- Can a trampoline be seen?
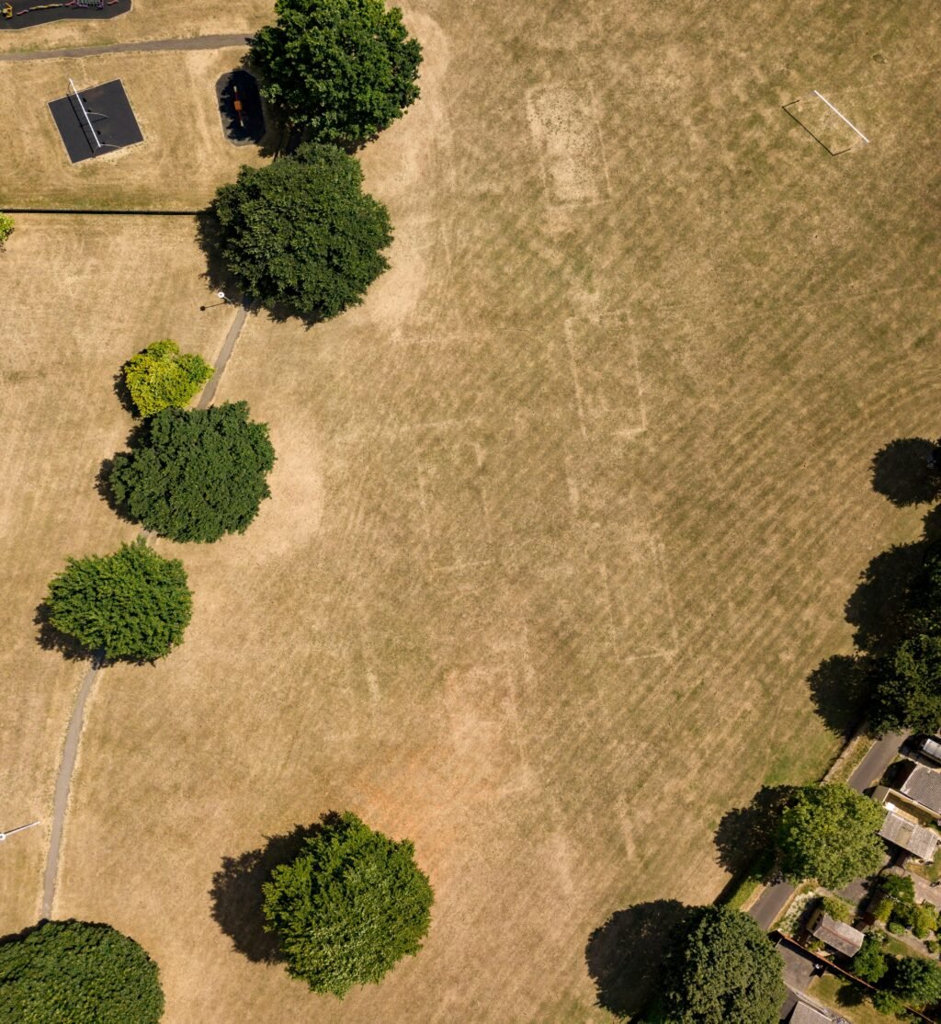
No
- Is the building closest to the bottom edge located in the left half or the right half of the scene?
right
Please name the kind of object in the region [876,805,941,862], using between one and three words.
building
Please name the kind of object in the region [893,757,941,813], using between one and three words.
building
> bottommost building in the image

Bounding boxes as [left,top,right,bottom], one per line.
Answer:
[772,987,834,1024]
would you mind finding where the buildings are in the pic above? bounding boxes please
[772,987,834,1024]
[893,757,941,813]
[911,739,941,768]
[866,782,892,805]
[806,905,865,957]
[876,805,941,862]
